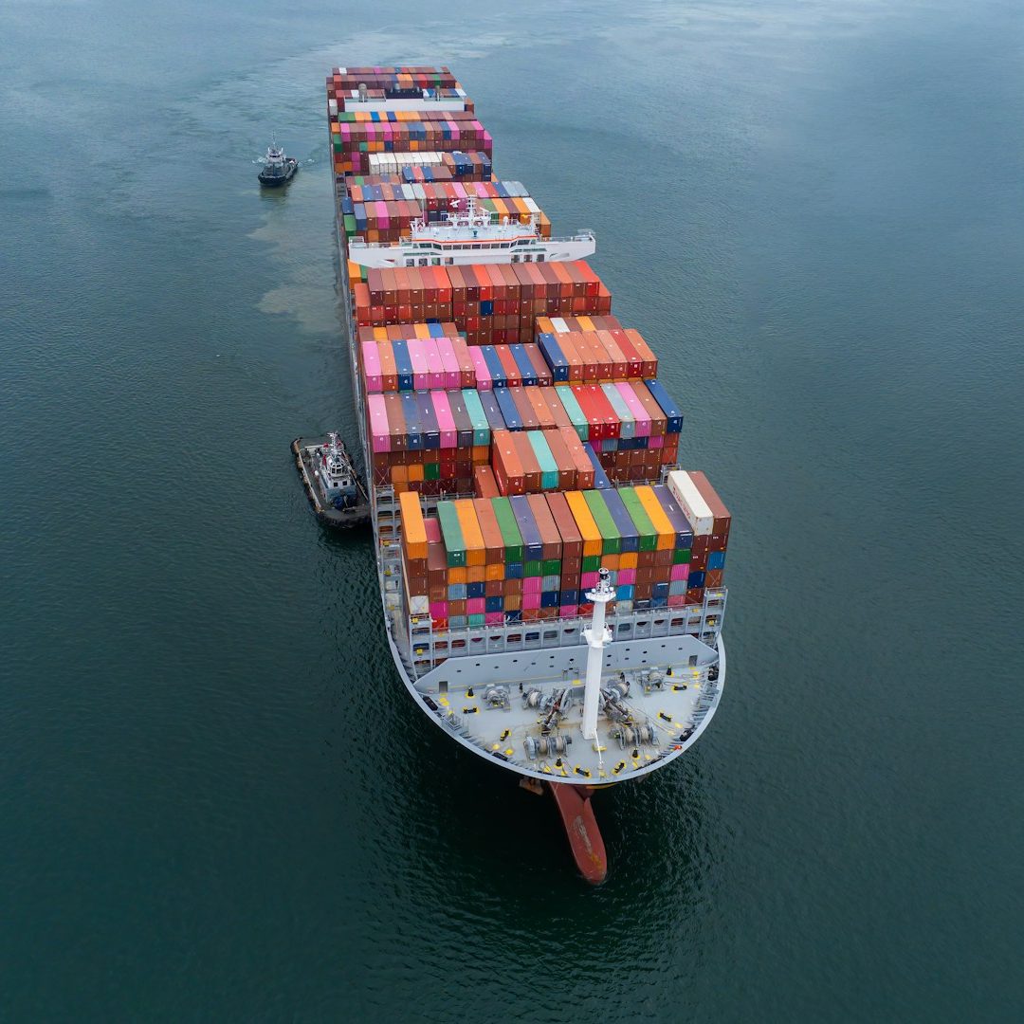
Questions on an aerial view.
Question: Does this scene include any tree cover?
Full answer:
No, the scene doesn't show any tree cover.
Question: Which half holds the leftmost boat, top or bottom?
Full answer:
The leftmost boat sits in the top half of the picture.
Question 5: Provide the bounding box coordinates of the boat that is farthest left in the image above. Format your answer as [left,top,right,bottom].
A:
[260,125,305,190]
